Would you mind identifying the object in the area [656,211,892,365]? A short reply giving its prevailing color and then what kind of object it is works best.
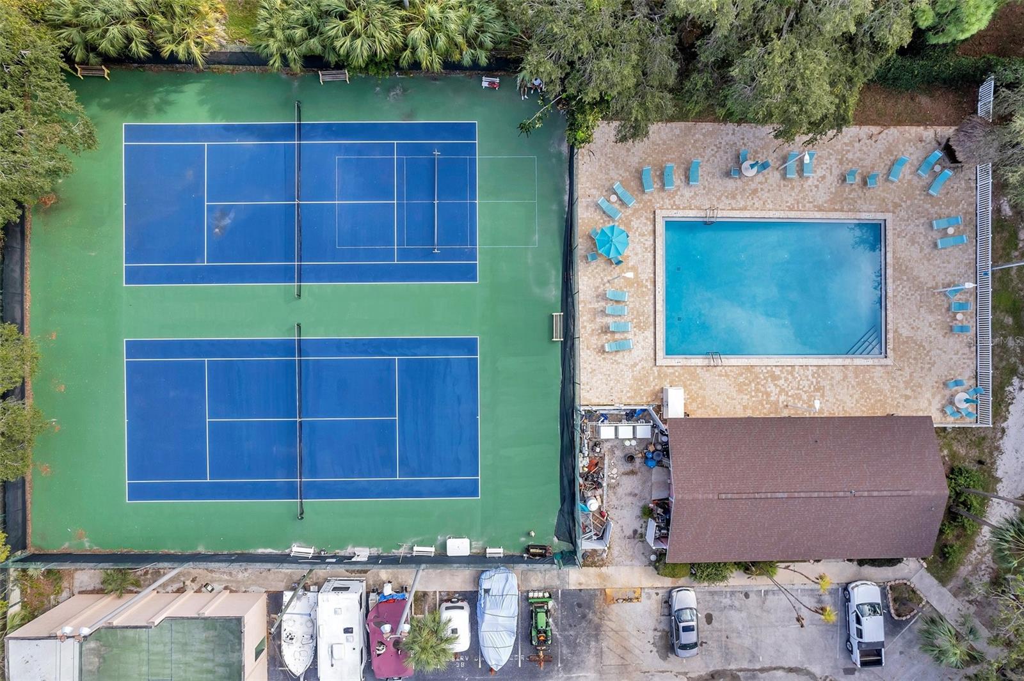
blue swimming pool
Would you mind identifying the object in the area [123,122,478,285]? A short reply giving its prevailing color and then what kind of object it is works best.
blue tennis court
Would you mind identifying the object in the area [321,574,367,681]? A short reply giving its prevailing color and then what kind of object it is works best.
white camper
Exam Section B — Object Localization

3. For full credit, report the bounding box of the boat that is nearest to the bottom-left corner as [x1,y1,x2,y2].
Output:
[279,579,319,681]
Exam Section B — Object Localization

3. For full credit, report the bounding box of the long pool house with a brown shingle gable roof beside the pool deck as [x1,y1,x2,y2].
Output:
[663,418,948,562]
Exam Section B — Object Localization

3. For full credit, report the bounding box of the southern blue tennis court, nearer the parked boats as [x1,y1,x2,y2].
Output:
[125,337,480,502]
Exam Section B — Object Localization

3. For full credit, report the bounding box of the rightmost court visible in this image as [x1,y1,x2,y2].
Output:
[336,156,537,248]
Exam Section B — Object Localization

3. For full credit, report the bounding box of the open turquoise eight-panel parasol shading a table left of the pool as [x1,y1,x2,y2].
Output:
[596,226,628,258]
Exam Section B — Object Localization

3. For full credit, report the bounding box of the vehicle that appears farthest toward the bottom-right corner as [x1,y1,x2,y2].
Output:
[842,580,883,668]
